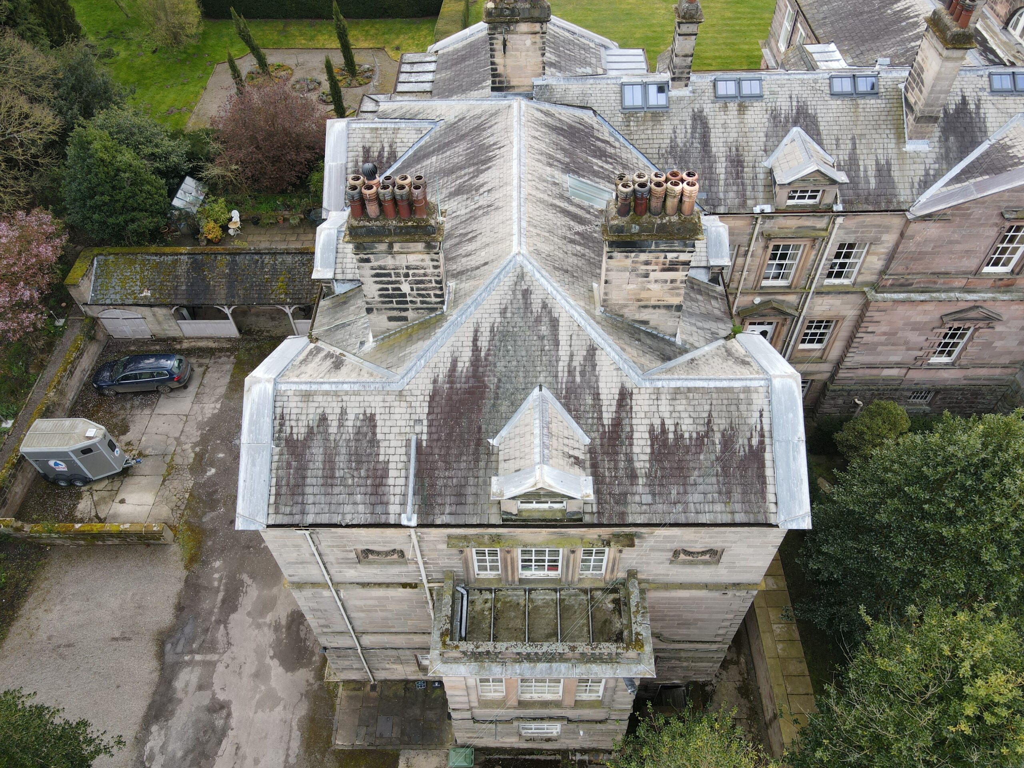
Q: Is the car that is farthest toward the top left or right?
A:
left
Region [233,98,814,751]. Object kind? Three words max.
house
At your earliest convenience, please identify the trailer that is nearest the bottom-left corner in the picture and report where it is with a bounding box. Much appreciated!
[15,420,146,487]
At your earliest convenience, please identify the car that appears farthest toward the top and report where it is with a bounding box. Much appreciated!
[87,347,193,396]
